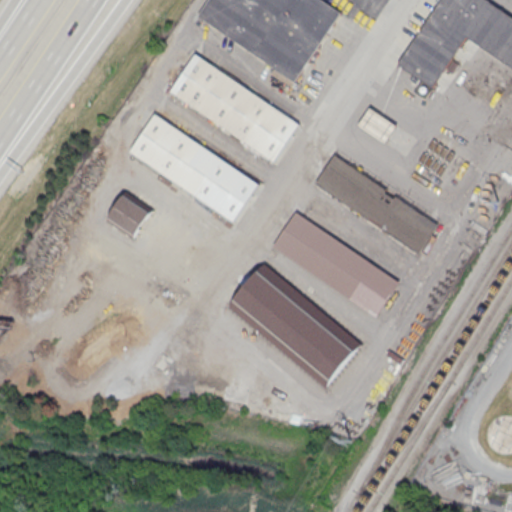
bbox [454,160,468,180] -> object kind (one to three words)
vehicle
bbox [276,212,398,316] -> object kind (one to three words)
building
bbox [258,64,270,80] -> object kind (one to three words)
vehicle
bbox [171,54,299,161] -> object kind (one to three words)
building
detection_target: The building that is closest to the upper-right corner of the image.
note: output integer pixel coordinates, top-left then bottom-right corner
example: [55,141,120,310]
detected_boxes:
[398,0,512,88]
